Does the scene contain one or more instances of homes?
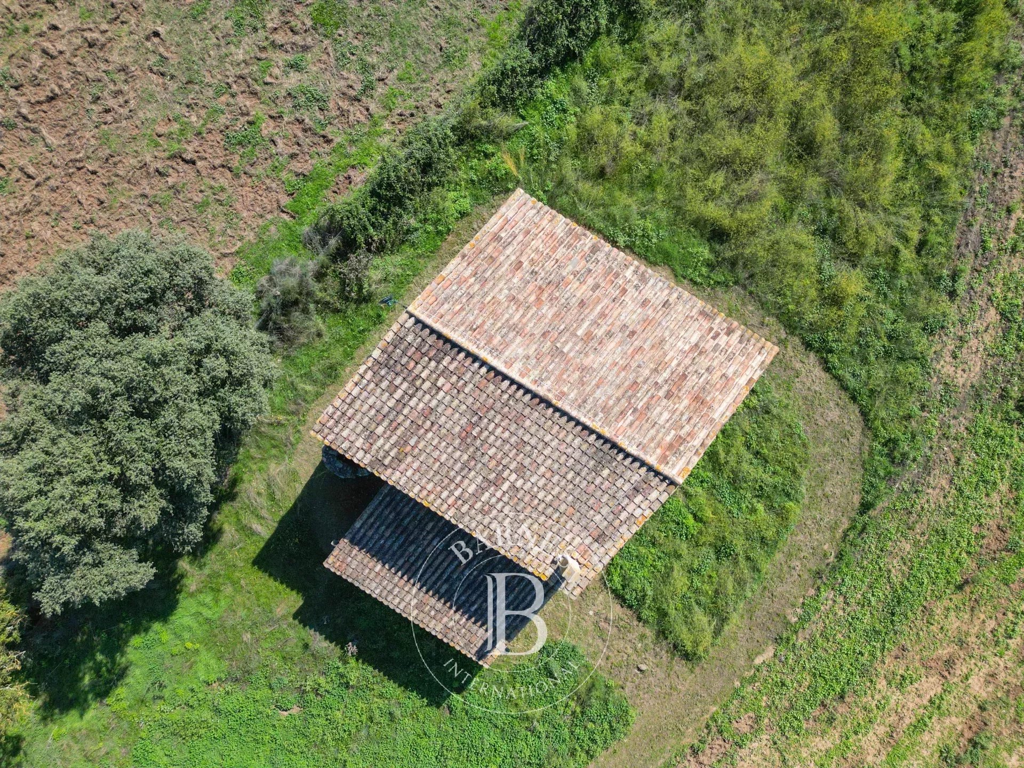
Yes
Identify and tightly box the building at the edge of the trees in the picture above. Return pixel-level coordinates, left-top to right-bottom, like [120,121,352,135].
[312,187,778,668]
